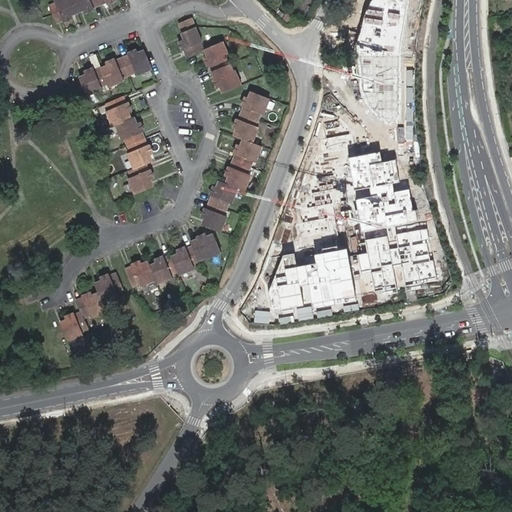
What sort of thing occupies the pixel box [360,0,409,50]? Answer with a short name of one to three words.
building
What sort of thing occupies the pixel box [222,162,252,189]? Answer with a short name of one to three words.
house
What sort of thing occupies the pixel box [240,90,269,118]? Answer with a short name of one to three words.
house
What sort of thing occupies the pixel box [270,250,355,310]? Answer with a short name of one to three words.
building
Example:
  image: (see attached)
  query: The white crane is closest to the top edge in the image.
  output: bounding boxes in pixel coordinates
[224,37,388,88]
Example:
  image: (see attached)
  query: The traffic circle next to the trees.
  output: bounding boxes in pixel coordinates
[174,328,252,404]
